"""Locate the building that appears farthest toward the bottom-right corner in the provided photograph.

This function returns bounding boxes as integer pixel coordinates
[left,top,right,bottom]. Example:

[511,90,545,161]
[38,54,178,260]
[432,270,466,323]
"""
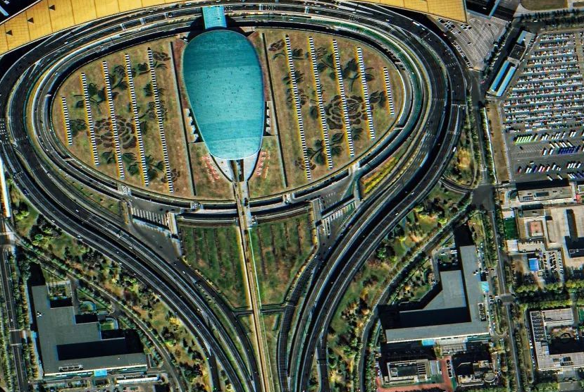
[530,308,584,389]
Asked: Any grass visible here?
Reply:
Yes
